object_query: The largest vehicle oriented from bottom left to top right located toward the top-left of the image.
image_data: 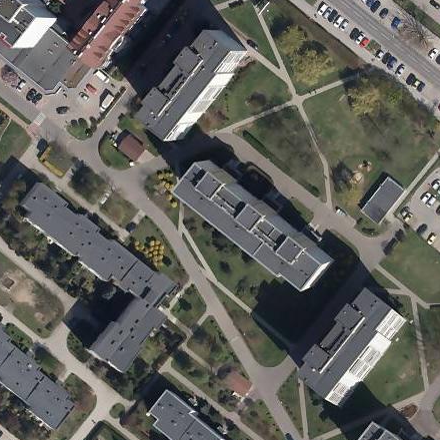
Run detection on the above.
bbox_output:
[99,90,116,110]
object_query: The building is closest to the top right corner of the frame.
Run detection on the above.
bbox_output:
[360,178,404,223]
